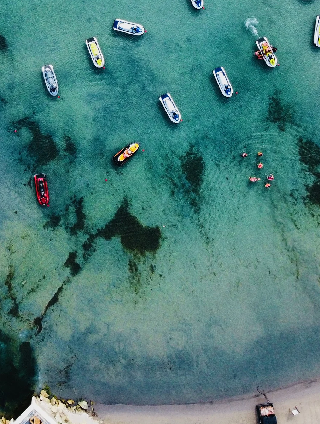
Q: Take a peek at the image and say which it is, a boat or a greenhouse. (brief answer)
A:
boat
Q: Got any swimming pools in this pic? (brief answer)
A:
No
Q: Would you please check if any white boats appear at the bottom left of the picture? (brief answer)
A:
No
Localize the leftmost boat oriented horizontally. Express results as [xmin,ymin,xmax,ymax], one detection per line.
[113,19,144,35]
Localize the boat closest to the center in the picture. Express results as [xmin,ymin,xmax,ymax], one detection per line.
[114,141,140,165]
